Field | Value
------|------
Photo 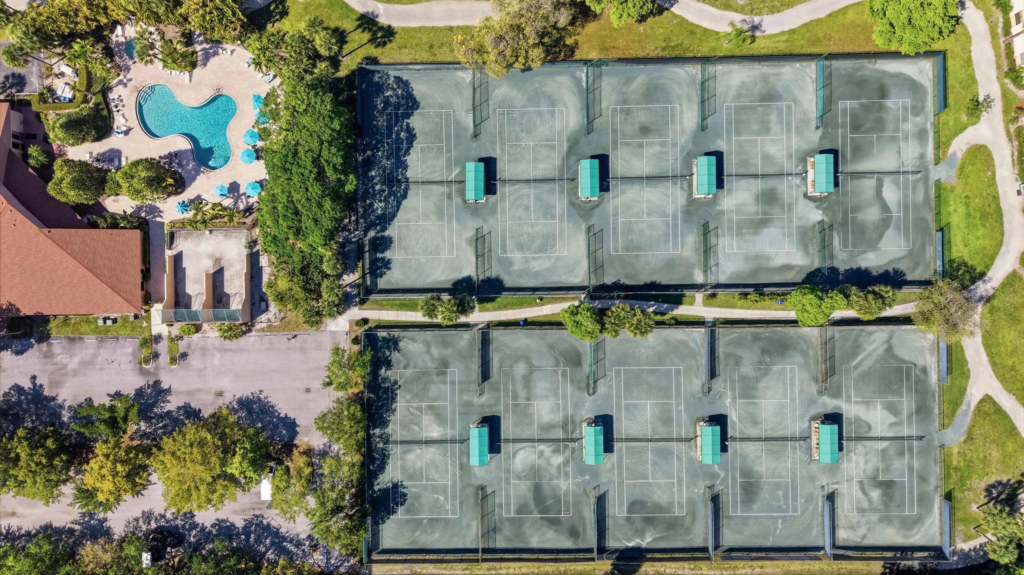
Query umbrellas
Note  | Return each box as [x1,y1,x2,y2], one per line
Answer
[176,200,191,213]
[241,149,256,164]
[245,181,259,196]
[250,94,264,110]
[243,129,259,145]
[215,183,229,199]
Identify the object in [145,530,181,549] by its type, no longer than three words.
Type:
vehicle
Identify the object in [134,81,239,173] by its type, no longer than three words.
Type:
swimming pool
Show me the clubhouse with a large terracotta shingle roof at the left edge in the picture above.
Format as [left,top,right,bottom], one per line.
[0,102,146,315]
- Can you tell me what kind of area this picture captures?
sports ground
